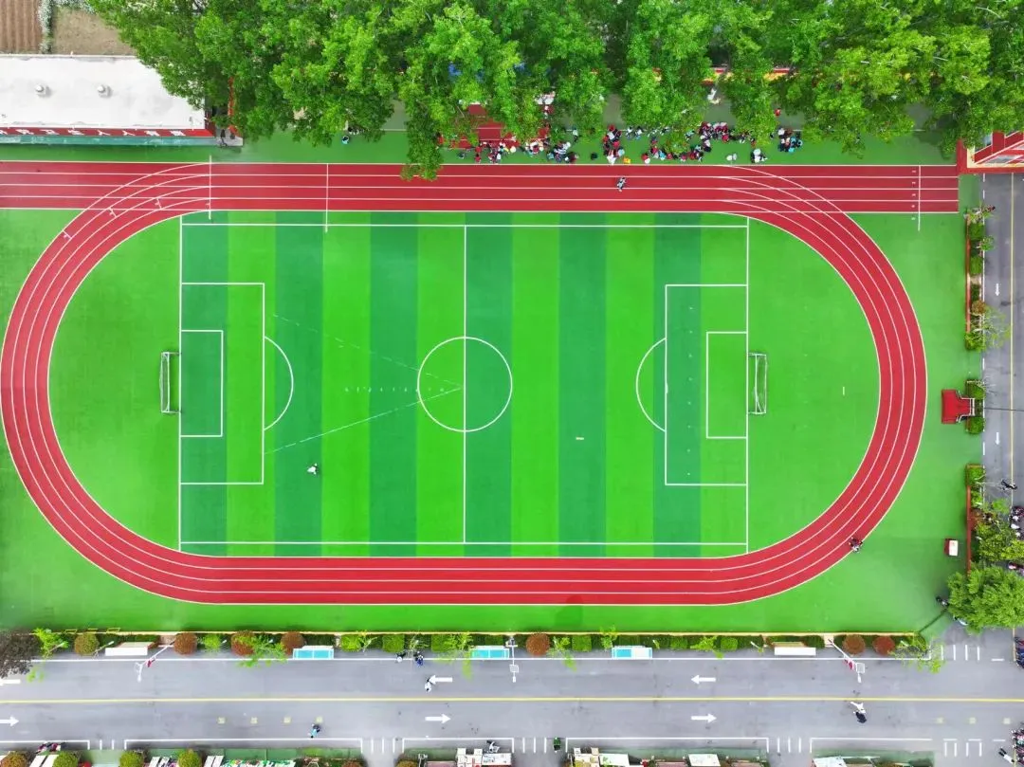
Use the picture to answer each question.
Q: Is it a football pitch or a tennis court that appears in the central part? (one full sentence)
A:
You can see a football pitch in the central part.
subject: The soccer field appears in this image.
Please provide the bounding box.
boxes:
[179,213,844,557]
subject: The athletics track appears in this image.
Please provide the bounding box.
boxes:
[0,156,957,605]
